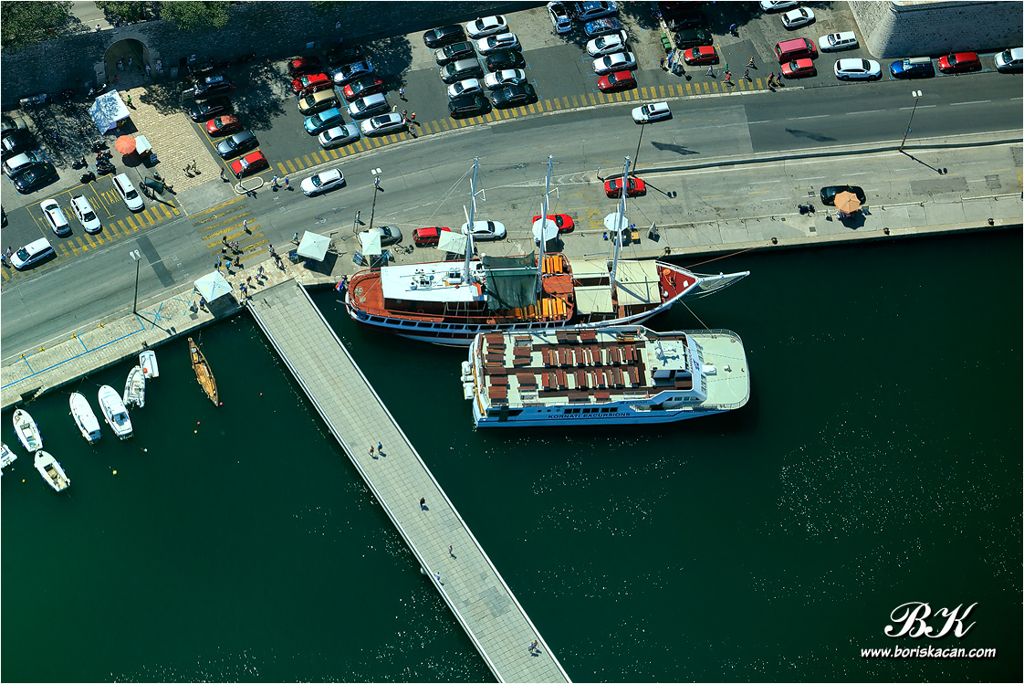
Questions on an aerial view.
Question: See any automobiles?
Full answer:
Yes, I can see an automobile in this picture.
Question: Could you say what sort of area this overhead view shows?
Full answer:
This looks like a port.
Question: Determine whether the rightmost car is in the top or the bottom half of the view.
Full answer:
The top half of the photo is where the rightmost car is.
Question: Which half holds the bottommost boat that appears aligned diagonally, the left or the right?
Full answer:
The bottommost boat that appears aligned diagonally sits on the left side.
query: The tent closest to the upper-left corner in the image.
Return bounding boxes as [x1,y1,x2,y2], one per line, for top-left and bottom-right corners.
[87,90,130,139]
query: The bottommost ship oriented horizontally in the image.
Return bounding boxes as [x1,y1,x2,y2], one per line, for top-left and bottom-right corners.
[462,326,751,426]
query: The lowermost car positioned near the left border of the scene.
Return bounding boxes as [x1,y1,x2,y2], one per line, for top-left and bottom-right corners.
[11,238,54,269]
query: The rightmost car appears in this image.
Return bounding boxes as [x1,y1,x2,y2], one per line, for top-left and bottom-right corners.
[993,50,1024,71]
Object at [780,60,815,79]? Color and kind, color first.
red car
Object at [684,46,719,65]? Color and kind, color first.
red car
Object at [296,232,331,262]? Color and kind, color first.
white umbrella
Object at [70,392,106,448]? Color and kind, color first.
white boat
